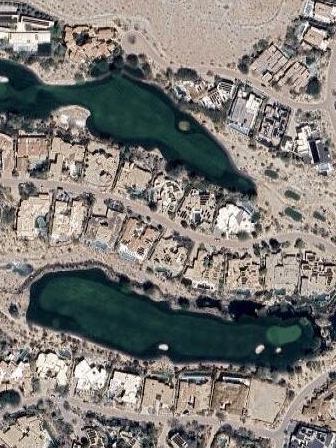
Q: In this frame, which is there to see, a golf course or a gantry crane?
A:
golf course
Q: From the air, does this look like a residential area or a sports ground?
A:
residential area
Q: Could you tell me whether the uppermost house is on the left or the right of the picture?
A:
right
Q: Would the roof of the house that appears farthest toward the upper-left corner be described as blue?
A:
No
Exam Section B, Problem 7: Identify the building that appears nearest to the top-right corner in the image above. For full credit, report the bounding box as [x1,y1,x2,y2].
[305,0,336,20]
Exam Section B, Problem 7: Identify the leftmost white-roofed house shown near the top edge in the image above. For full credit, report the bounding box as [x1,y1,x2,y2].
[0,6,54,51]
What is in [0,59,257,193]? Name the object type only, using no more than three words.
golf course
